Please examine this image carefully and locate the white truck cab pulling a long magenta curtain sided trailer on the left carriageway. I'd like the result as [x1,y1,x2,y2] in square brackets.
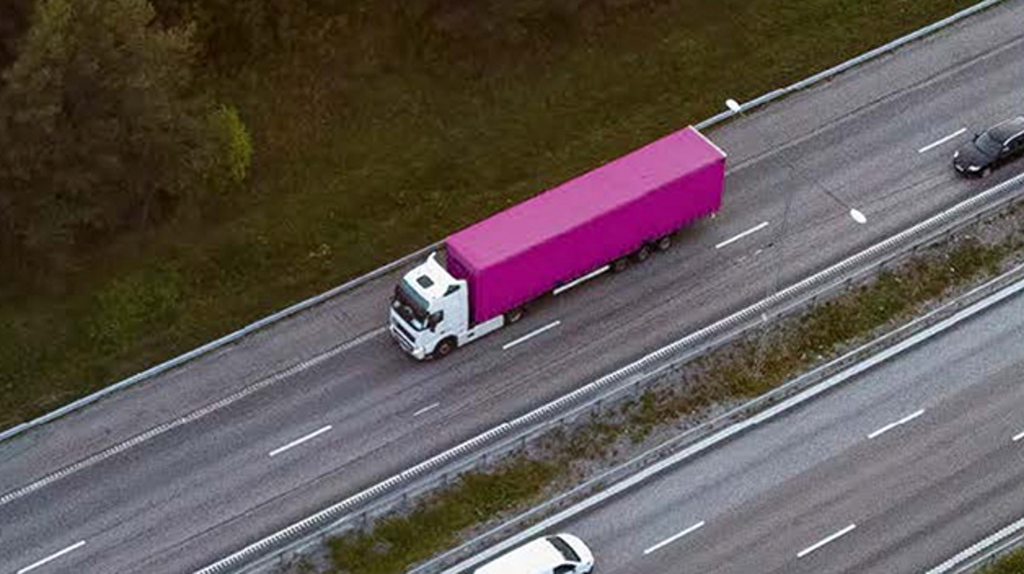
[387,128,728,356]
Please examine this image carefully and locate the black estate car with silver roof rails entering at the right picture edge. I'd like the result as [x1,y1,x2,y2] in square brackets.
[948,115,1024,182]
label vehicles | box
[478,536,592,574]
[387,128,728,356]
[948,115,1024,182]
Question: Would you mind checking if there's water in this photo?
No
